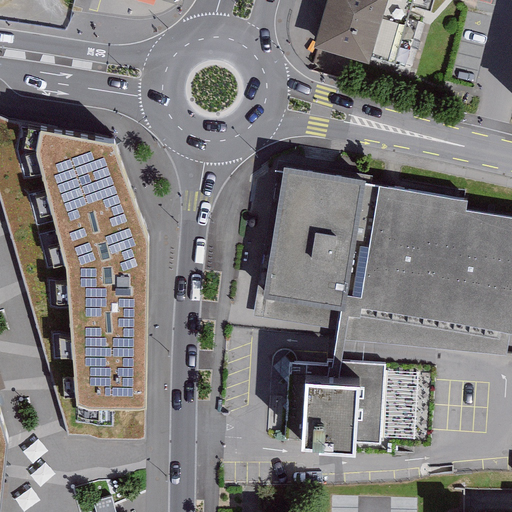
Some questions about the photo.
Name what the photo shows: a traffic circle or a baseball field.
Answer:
traffic circle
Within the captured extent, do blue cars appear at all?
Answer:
Yes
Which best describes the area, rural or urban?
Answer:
urban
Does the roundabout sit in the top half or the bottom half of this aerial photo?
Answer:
top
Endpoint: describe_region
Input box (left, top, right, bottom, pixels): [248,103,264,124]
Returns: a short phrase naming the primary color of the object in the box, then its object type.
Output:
blue car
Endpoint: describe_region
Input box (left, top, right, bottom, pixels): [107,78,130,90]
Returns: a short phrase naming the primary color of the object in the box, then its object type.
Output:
gray vehicle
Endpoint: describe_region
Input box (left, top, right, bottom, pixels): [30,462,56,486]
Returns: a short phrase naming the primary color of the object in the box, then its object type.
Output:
white umbrella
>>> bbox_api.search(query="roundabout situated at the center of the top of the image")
[139,13,290,164]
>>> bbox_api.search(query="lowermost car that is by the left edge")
[24,76,46,88]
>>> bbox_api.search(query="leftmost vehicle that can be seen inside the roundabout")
[147,90,170,104]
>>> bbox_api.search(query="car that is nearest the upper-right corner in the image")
[463,30,488,44]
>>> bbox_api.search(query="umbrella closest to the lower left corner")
[15,488,40,512]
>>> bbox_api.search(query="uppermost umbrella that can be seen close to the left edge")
[23,438,48,464]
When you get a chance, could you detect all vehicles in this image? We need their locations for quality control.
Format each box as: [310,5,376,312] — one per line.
[248,103,264,124]
[464,382,474,404]
[245,76,259,100]
[188,312,198,334]
[147,90,170,104]
[328,92,354,108]
[170,460,181,484]
[176,276,186,300]
[361,104,383,117]
[203,172,215,196]
[172,390,182,410]
[204,120,227,132]
[186,344,198,368]
[294,470,324,481]
[463,30,488,44]
[190,274,202,302]
[260,28,270,52]
[24,76,46,88]
[186,134,208,150]
[184,380,194,404]
[288,78,312,95]
[198,200,210,226]
[194,236,206,264]
[0,33,16,44]
[107,78,130,90]
[272,456,288,483]
[455,70,476,81]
